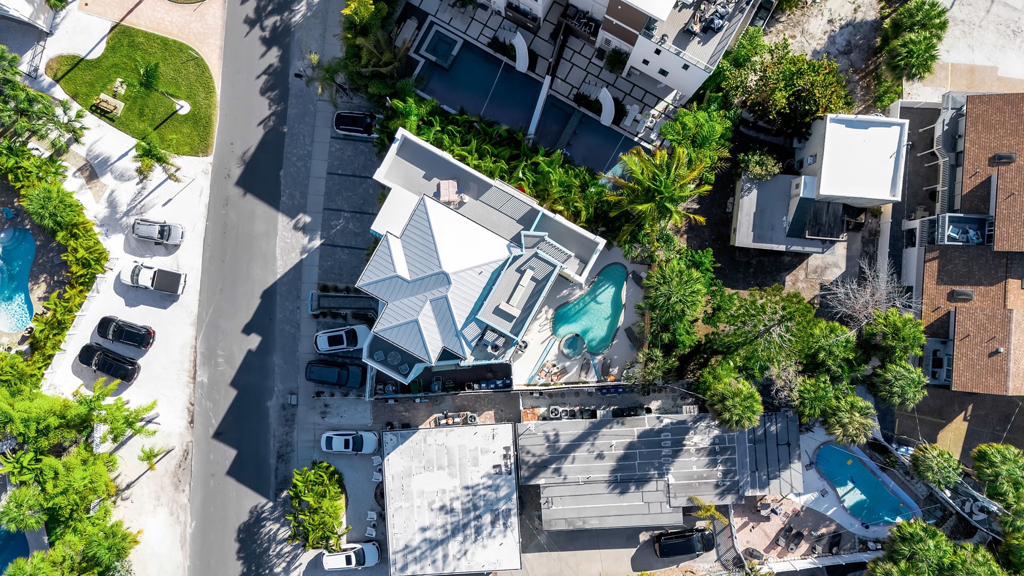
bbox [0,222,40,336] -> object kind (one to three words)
swimming pool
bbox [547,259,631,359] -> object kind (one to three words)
swimming pool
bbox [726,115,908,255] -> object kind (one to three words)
house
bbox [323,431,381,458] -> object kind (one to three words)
car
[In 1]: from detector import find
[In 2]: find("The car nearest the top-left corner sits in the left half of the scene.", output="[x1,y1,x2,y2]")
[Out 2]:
[127,219,186,246]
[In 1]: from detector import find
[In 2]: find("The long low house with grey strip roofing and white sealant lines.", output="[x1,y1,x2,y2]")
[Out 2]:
[518,406,802,531]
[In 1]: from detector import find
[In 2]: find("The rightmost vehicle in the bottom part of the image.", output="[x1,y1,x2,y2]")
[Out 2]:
[651,532,712,563]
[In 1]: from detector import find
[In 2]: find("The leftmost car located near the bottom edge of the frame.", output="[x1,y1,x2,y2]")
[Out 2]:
[323,543,381,572]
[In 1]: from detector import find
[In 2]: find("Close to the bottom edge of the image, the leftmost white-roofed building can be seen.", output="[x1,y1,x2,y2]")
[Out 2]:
[383,422,521,576]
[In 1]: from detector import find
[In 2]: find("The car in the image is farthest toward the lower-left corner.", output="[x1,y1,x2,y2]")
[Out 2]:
[79,344,142,382]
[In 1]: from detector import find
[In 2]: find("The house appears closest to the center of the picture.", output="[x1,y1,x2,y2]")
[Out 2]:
[355,128,607,385]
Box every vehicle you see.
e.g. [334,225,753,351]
[323,543,381,572]
[323,431,381,458]
[651,532,712,563]
[79,344,142,382]
[306,361,367,391]
[118,262,191,297]
[127,219,186,246]
[96,316,157,350]
[312,325,371,354]
[331,110,388,136]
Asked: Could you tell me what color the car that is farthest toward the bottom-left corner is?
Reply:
black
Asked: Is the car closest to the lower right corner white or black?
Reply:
black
